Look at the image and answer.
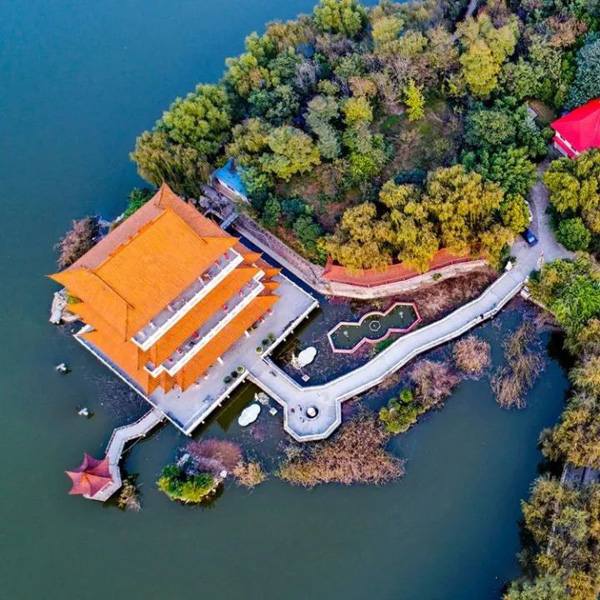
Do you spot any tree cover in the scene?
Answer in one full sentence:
Yes, the picture does contain tree cover.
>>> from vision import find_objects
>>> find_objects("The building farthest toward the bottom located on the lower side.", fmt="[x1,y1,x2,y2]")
[60,448,122,507]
